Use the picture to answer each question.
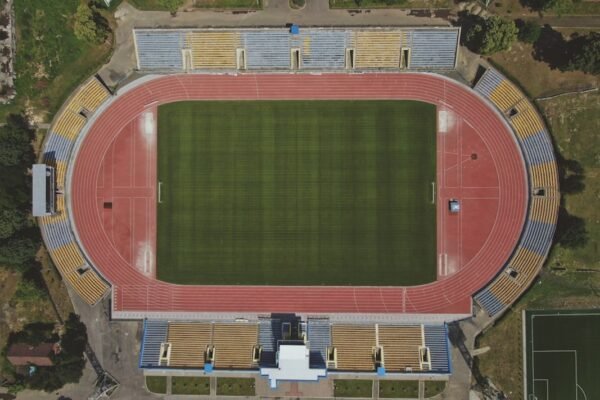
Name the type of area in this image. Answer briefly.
sports ground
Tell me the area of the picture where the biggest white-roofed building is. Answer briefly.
bottom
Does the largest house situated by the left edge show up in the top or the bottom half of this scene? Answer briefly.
bottom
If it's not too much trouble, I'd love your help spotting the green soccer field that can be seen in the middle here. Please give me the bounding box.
[157,100,437,285]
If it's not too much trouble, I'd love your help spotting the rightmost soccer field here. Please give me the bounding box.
[523,309,600,400]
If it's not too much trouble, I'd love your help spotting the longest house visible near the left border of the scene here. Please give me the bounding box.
[6,342,57,365]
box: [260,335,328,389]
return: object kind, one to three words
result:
building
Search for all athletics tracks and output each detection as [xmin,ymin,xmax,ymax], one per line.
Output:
[68,70,530,319]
